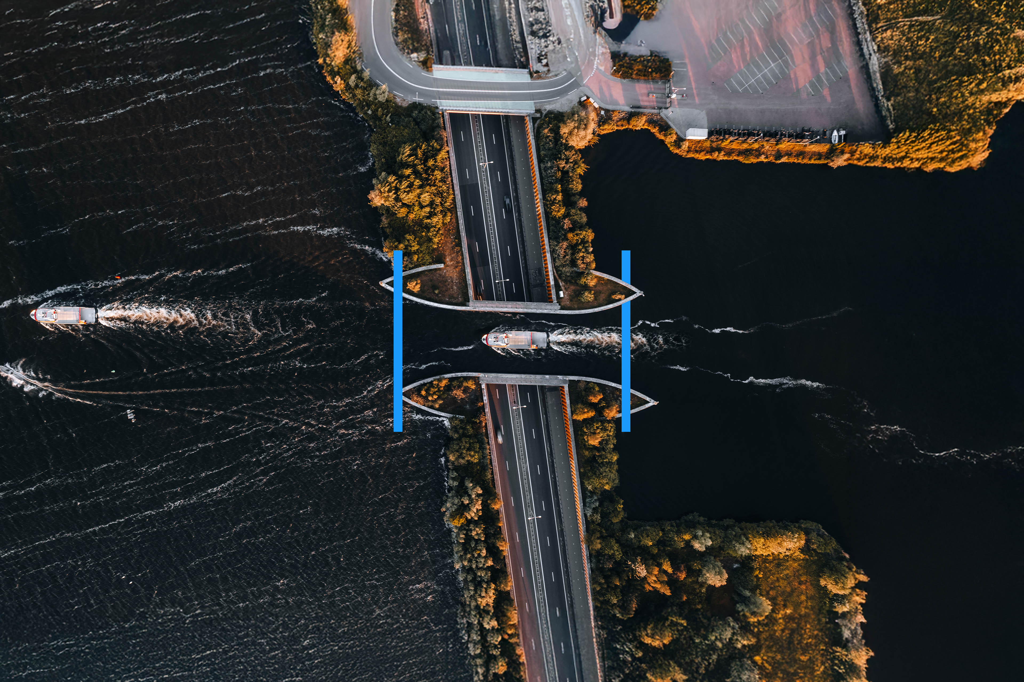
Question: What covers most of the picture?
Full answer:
What you mostly see from above here is water.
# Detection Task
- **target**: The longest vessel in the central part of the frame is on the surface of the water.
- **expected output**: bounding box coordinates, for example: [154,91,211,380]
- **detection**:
[481,331,549,349]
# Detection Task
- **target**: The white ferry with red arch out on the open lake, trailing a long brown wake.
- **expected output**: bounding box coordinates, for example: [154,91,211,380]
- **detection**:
[27,306,101,325]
